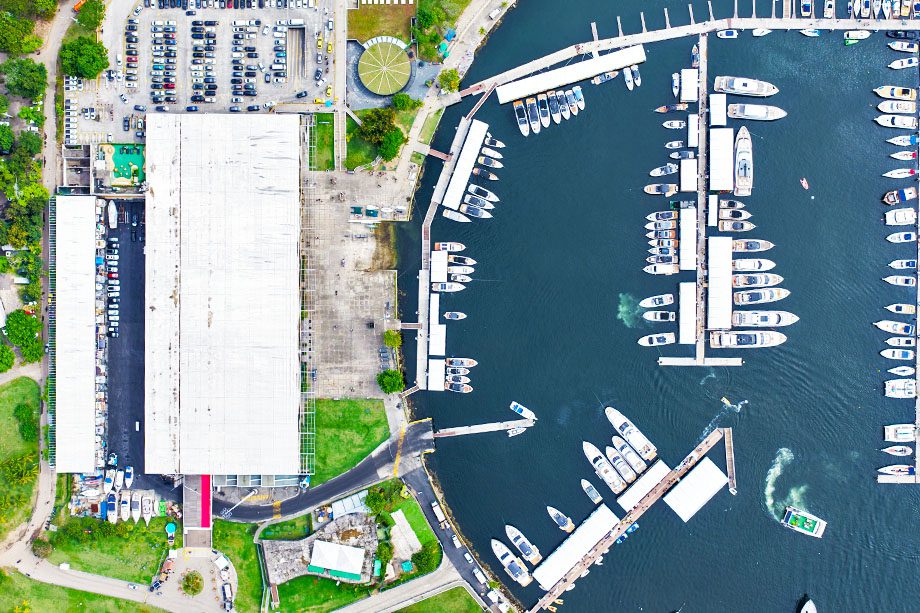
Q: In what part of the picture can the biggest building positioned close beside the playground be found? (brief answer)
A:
left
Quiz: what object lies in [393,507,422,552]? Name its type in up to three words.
house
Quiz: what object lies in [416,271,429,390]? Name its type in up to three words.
pier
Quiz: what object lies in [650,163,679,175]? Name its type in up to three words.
boat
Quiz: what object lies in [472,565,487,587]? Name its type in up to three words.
vehicle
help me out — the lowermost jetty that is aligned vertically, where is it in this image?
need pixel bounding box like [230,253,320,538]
[723,428,736,488]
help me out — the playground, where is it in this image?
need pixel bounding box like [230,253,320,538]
[92,142,145,198]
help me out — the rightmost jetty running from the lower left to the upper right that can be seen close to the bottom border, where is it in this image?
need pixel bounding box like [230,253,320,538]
[531,428,723,613]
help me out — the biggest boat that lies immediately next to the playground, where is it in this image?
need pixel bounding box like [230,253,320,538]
[106,200,119,230]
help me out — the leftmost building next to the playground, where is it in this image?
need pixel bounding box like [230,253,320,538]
[49,196,106,474]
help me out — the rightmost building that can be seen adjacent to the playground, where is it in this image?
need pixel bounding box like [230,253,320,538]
[145,112,305,475]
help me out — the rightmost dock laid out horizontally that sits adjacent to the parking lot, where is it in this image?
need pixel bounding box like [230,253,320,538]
[470,18,920,93]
